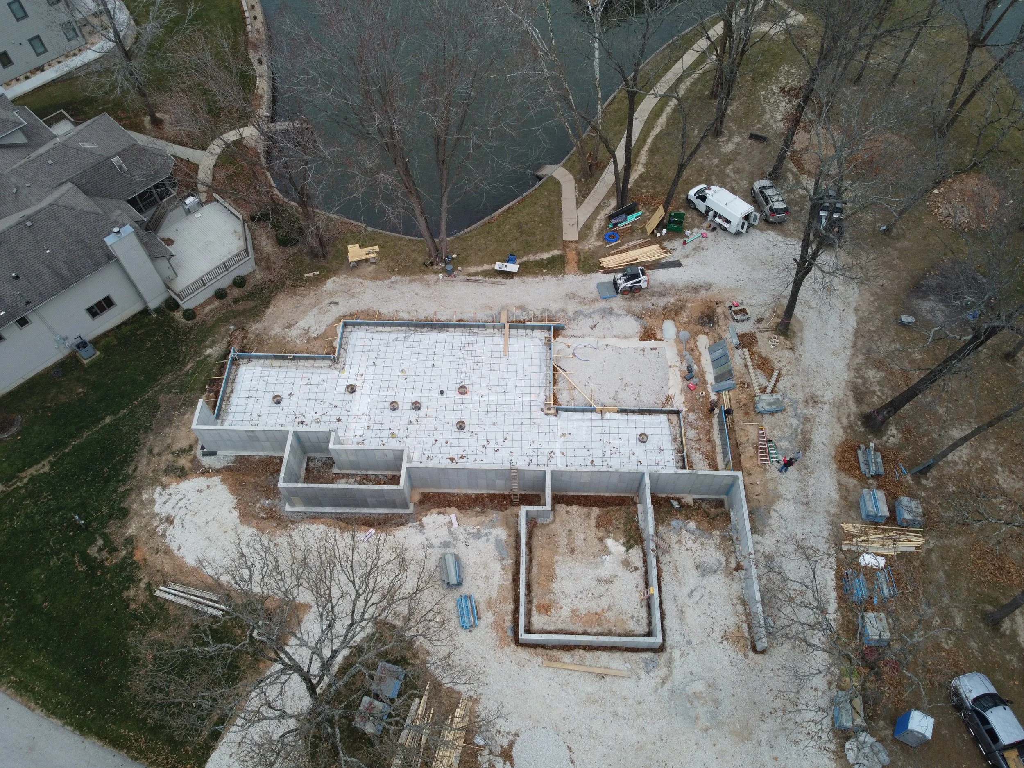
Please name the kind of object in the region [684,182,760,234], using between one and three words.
van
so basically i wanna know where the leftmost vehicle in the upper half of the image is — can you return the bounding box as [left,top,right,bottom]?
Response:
[611,260,651,294]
